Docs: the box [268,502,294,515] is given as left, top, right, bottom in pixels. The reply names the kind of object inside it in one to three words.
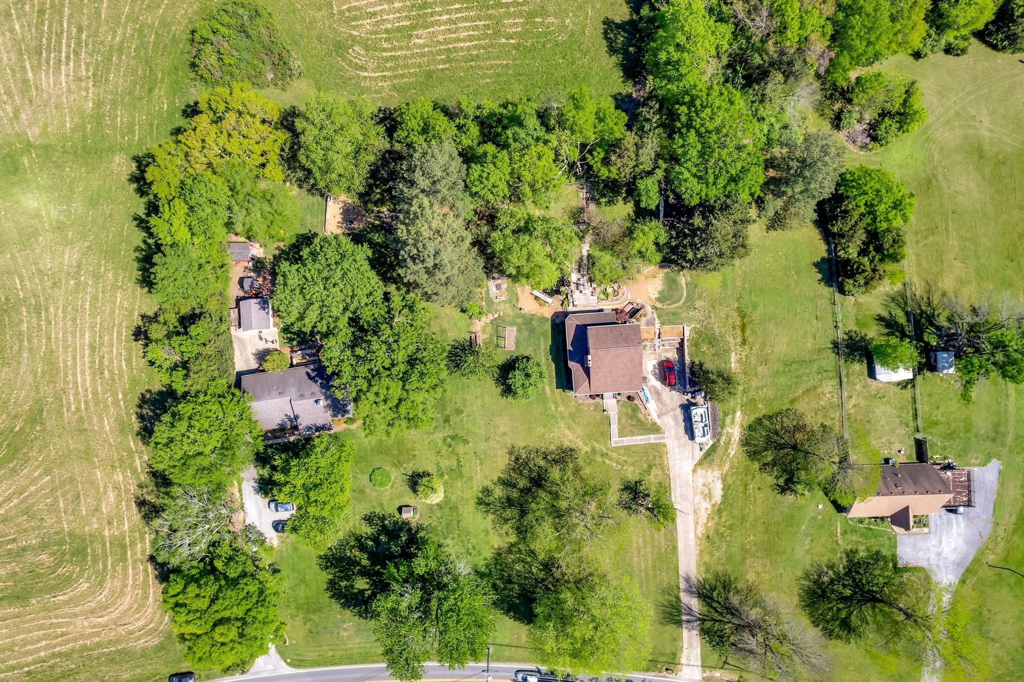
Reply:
vehicle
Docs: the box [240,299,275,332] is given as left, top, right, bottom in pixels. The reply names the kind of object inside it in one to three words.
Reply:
building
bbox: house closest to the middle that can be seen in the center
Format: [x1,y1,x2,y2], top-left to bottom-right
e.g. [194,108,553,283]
[566,311,643,395]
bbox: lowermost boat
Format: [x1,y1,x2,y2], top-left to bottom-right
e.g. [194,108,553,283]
[692,404,711,444]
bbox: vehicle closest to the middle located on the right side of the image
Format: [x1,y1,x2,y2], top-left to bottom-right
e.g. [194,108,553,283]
[663,360,678,387]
